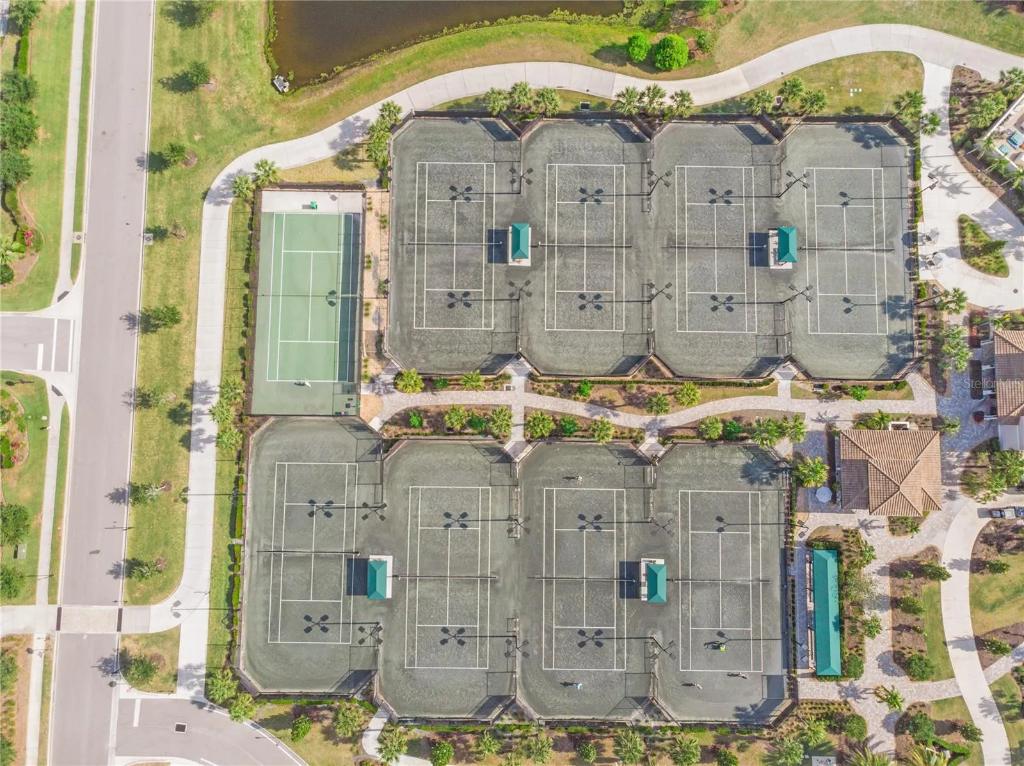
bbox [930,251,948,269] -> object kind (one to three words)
umbrella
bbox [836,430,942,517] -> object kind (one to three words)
building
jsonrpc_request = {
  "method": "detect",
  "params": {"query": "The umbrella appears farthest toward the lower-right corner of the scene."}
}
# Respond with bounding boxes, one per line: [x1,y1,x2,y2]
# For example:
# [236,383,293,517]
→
[815,485,832,502]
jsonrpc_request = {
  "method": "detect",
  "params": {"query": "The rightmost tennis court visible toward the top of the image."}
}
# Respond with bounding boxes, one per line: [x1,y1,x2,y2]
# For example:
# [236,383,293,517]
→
[780,123,913,378]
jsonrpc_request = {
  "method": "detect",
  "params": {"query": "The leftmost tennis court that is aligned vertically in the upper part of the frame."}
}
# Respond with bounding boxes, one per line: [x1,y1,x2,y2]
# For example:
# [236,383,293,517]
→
[252,193,361,415]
